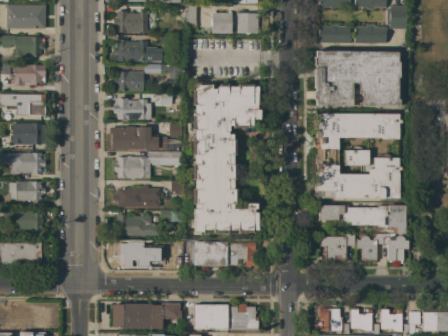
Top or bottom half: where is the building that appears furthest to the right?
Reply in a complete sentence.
Seen from above, the building that appears furthest to the right lies in the bottom half of the view.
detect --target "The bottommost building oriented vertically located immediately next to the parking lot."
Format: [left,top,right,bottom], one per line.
[195,84,260,231]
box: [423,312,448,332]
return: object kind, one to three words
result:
building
